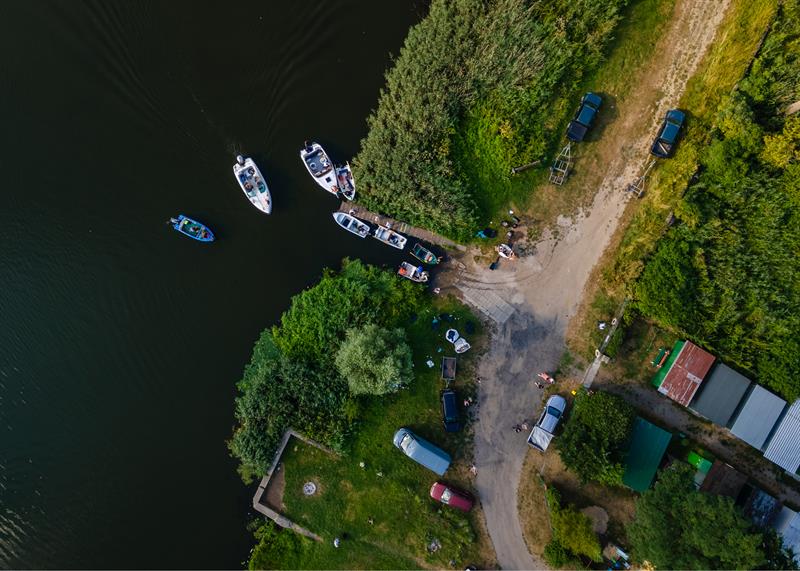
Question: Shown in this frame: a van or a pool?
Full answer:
Looking from above, you can make out a van.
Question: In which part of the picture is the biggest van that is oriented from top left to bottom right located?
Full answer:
The biggest van that is oriented from top left to bottom right is in the bottom part of the image.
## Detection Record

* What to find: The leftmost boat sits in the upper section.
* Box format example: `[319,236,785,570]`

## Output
[168,213,216,240]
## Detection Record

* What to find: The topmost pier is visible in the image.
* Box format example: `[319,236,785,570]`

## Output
[338,201,466,252]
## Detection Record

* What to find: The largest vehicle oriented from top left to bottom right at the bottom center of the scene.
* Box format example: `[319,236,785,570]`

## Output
[393,424,452,476]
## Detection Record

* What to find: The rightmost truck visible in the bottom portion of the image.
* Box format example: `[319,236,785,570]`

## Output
[525,390,566,453]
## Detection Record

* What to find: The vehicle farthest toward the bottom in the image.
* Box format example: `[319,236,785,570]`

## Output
[428,481,477,514]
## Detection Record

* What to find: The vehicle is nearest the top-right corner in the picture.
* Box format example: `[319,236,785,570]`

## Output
[648,108,684,162]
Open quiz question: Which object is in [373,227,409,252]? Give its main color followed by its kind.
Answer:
white boat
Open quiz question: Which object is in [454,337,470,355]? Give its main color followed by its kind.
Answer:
white boat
